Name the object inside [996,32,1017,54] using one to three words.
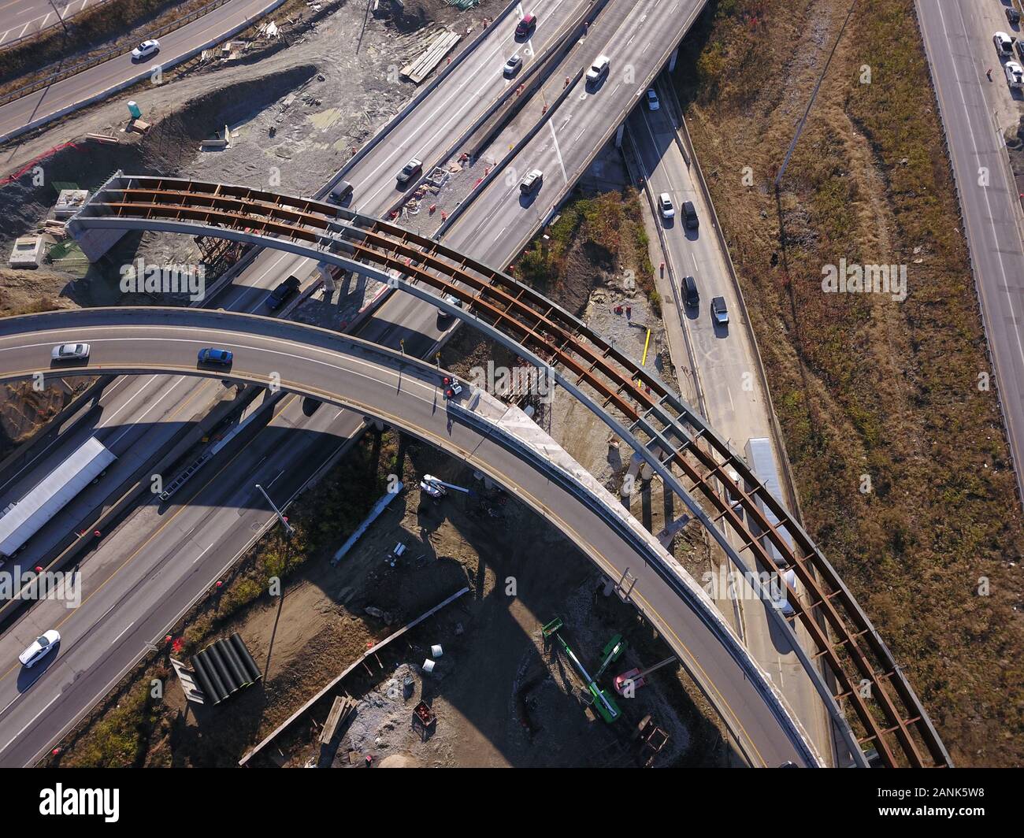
truck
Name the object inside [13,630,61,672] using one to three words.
car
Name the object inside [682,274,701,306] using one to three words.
vehicle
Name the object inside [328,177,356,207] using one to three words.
van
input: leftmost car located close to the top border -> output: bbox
[130,39,159,57]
